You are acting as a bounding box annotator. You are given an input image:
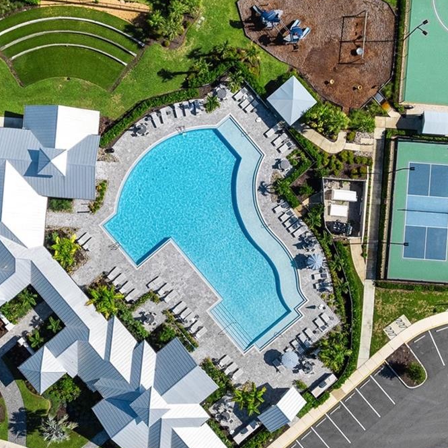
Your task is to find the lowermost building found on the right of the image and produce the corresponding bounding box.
[258,387,307,435]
